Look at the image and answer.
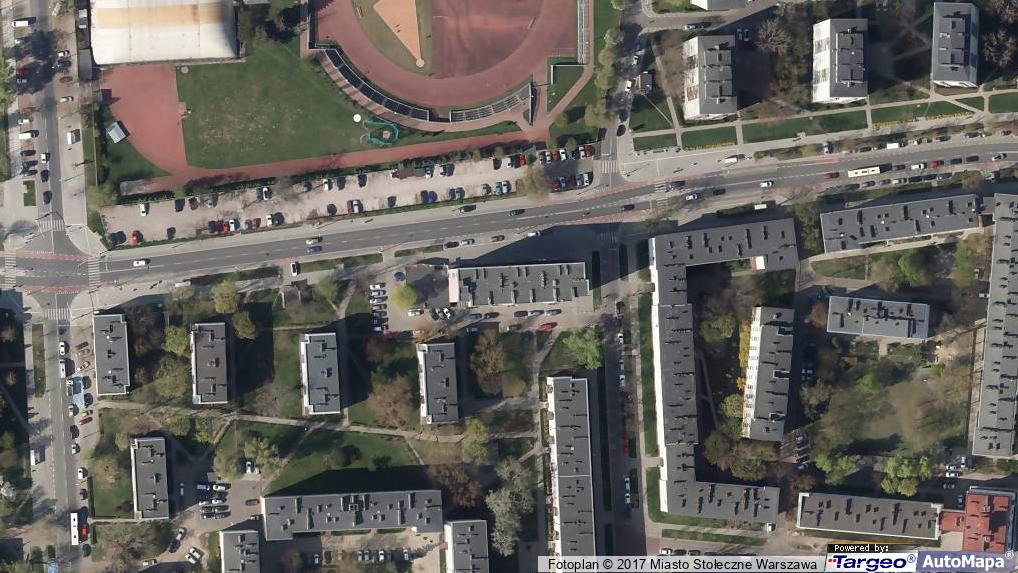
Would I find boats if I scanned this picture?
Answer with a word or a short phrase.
No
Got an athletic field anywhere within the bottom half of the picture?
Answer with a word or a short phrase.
No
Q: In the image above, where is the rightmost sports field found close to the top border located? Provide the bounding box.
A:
[431,0,543,80]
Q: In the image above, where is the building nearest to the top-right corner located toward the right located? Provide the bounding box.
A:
[920,2,973,88]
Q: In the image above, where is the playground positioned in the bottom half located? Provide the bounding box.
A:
[850,342,976,441]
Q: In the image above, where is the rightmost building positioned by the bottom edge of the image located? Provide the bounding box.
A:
[938,486,1016,573]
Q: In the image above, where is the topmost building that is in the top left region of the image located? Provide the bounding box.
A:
[89,0,237,62]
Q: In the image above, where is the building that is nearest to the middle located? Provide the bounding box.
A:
[447,263,590,308]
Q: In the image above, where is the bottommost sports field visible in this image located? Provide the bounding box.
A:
[178,57,521,168]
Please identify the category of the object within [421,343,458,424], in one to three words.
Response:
building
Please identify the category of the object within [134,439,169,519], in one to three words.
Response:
building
